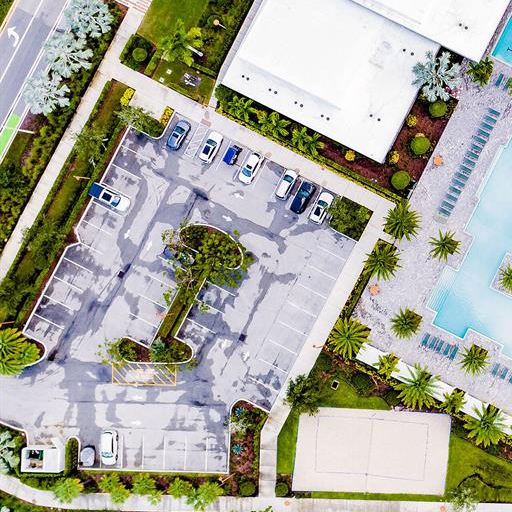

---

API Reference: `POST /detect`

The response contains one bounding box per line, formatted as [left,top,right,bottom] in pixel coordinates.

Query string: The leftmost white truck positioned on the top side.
[88,183,132,211]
